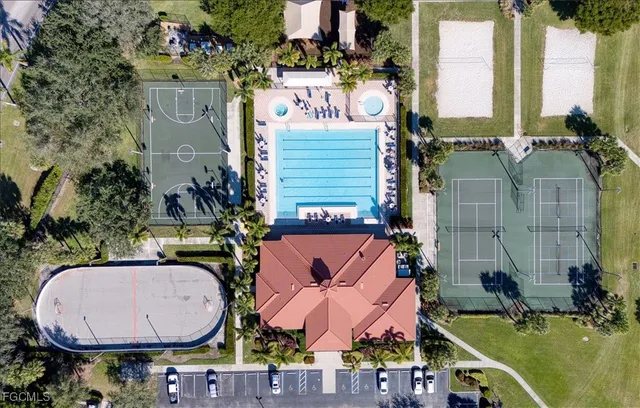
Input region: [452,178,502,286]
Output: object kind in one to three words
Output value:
tennis court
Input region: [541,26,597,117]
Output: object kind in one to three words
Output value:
sports court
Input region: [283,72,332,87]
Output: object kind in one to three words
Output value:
building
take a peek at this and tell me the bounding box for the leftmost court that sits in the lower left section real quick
[34,264,226,351]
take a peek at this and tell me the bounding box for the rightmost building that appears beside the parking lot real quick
[256,235,416,351]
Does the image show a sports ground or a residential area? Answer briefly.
sports ground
